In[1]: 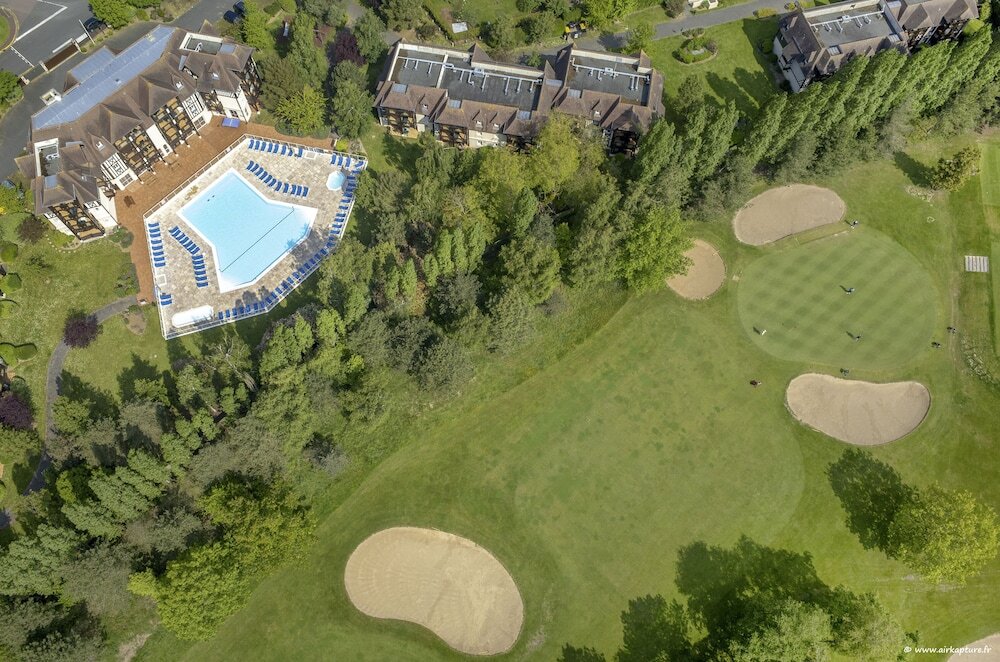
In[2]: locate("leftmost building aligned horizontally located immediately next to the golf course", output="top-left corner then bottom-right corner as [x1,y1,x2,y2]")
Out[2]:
[374,39,665,157]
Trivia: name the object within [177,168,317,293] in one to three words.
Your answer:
swimming pool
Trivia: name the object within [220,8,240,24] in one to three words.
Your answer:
car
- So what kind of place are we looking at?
golf course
